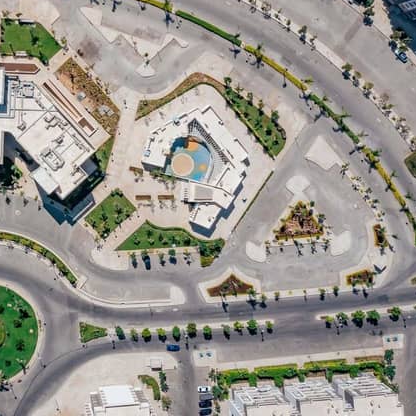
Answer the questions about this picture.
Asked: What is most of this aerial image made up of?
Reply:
paved ground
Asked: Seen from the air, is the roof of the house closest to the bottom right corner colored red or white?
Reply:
white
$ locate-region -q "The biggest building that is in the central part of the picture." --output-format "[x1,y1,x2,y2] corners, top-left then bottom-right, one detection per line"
[139,106,249,228]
